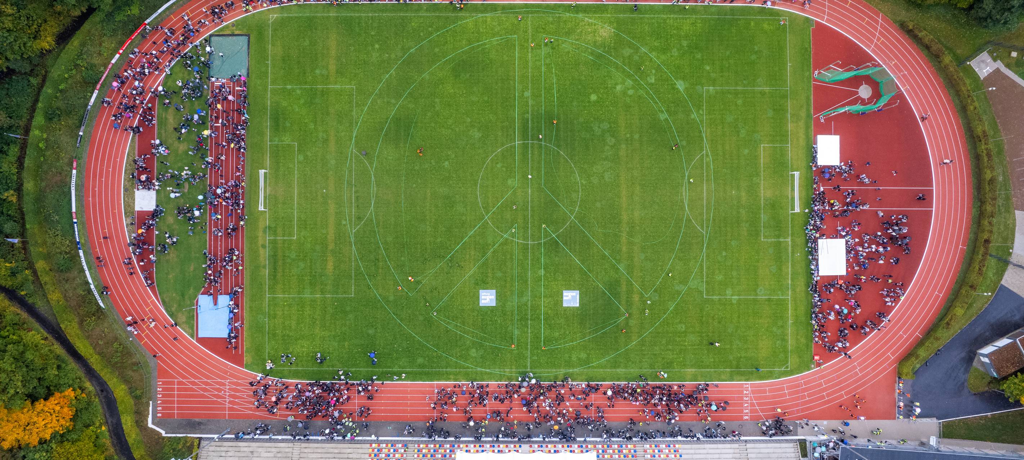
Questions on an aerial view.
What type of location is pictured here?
sports ground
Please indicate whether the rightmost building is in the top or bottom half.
bottom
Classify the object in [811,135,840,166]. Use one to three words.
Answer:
tent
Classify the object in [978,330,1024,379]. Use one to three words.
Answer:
building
